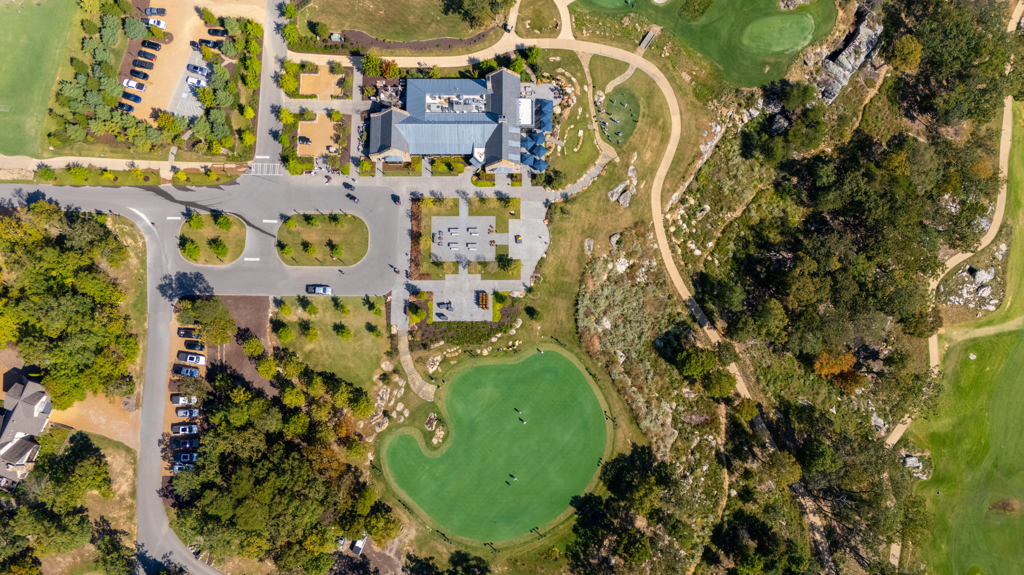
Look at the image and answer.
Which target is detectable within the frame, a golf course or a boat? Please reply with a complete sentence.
I can see a golf course in this picture.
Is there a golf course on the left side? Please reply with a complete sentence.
No, no golf course can be made out on the left side.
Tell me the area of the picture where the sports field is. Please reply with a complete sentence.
Look in the top left portion of the view to spot the sports field.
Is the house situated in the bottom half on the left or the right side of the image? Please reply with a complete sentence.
The house situated in the bottom half is on the left side of the image.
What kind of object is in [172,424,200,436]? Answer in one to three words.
vehicle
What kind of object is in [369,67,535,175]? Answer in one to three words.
building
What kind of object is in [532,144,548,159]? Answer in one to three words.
umbrella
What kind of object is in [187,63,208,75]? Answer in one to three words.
vehicle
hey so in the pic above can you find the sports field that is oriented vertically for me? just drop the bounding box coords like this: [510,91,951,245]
[0,0,82,159]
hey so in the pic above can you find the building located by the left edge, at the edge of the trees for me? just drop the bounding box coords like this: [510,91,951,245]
[0,376,55,494]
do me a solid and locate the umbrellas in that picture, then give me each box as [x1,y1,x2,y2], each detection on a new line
[532,132,546,145]
[522,154,534,166]
[541,99,553,110]
[532,158,549,173]
[532,144,548,159]
[541,120,553,131]
[521,136,535,151]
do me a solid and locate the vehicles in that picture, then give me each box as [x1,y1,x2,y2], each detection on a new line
[352,534,368,557]
[171,438,199,449]
[130,68,150,81]
[173,366,201,377]
[122,91,143,104]
[124,79,148,93]
[142,39,162,51]
[138,50,158,61]
[189,39,201,52]
[187,63,208,75]
[344,183,356,193]
[116,100,137,114]
[177,330,204,341]
[394,194,402,206]
[177,407,200,418]
[131,58,156,71]
[347,193,359,204]
[505,23,513,35]
[185,341,208,351]
[186,75,207,87]
[199,38,220,50]
[143,17,166,29]
[146,6,167,17]
[298,136,312,146]
[208,28,228,38]
[328,146,339,155]
[170,396,198,406]
[172,424,200,436]
[307,285,334,295]
[179,353,206,365]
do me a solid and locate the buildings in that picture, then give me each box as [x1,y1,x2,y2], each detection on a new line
[0,376,55,494]
[369,67,535,175]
